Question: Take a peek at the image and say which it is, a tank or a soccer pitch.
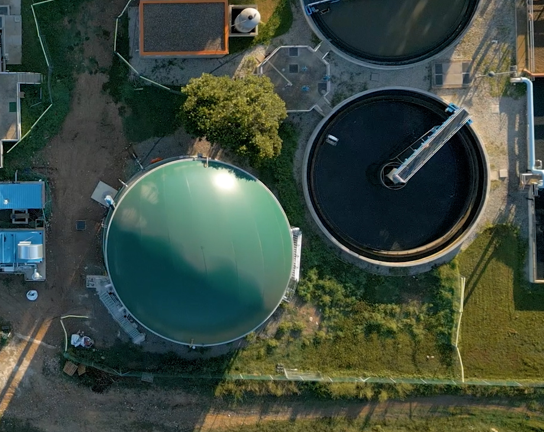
tank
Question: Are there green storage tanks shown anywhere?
Yes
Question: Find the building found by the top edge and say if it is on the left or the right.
left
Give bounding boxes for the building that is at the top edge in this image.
[136,0,229,59]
